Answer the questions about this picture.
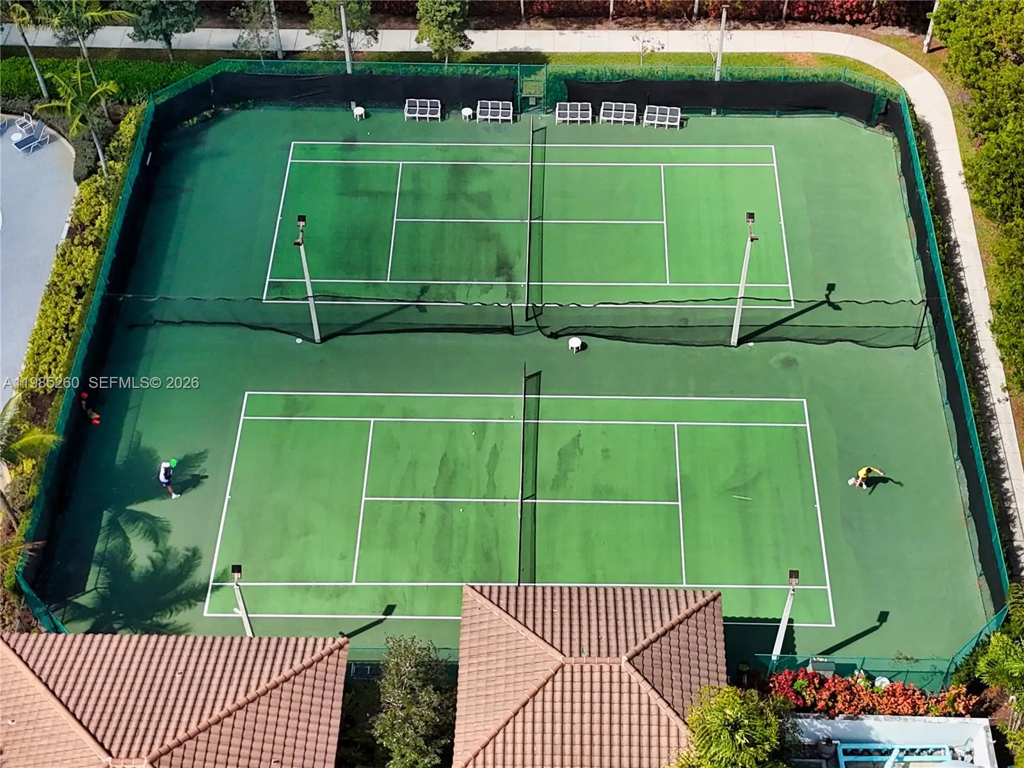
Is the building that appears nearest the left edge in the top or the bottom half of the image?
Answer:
bottom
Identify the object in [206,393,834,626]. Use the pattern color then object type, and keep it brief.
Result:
green tennis court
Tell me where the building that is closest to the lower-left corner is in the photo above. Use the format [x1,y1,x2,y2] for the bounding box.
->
[0,626,353,768]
